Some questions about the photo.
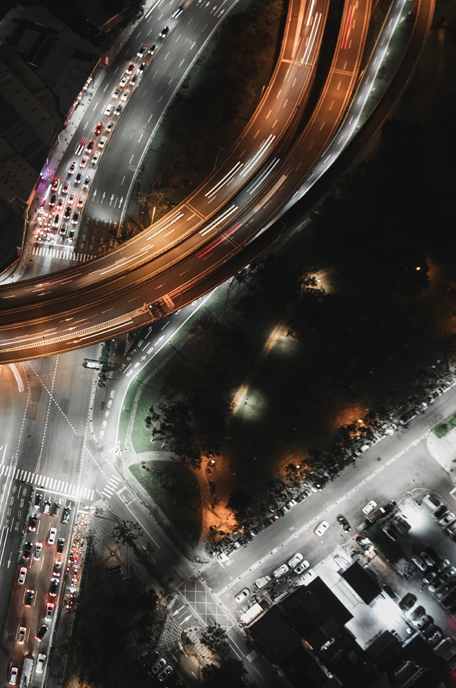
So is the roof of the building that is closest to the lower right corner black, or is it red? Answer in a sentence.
From above, the roof of the building that is closest to the lower right corner appears black.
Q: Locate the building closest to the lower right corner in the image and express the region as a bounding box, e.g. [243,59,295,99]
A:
[362,630,432,688]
